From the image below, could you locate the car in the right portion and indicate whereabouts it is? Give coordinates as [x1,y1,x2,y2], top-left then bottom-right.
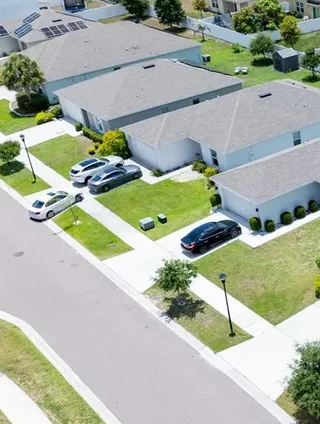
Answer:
[176,220,243,251]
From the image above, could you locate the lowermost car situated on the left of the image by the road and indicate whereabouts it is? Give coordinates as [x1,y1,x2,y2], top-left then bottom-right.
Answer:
[21,188,84,218]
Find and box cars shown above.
[176,220,243,251]
[83,163,142,189]
[64,156,122,182]
[21,188,84,218]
